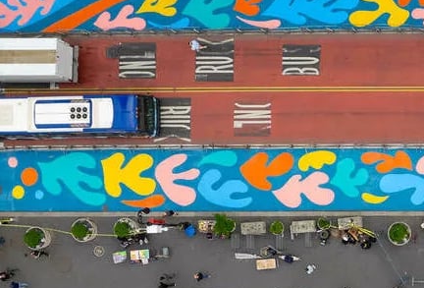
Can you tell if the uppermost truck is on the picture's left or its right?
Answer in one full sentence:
It is on the left.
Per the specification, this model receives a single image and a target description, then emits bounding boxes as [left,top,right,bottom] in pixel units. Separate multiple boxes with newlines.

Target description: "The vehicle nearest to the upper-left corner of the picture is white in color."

[0,40,86,84]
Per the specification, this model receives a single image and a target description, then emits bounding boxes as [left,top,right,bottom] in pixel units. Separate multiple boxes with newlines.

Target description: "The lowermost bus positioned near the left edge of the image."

[0,93,160,137]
